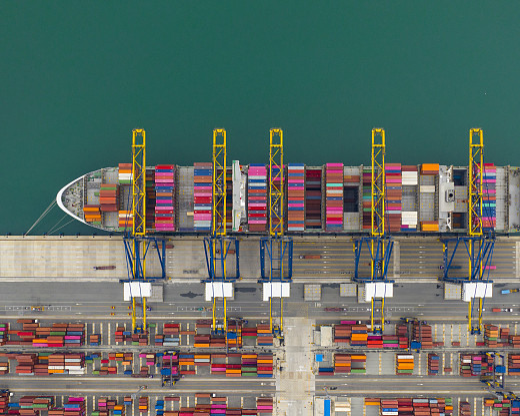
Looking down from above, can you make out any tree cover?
No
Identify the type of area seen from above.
port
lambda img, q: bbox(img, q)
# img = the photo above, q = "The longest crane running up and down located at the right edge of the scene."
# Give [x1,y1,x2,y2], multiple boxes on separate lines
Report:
[440,127,497,334]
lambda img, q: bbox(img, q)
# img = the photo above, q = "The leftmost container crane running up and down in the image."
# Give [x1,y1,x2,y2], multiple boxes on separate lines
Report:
[123,128,169,333]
